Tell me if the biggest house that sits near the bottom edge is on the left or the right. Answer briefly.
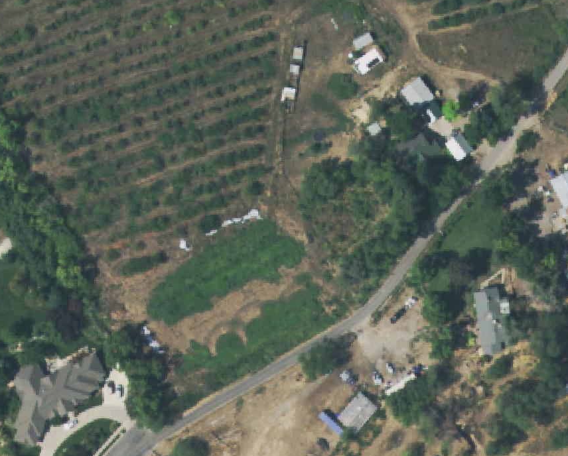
left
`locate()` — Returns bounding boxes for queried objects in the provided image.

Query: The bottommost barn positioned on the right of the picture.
[339,392,377,432]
